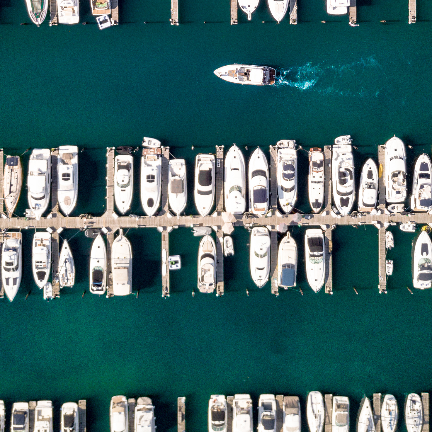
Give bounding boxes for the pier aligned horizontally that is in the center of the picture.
[0,144,432,299]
